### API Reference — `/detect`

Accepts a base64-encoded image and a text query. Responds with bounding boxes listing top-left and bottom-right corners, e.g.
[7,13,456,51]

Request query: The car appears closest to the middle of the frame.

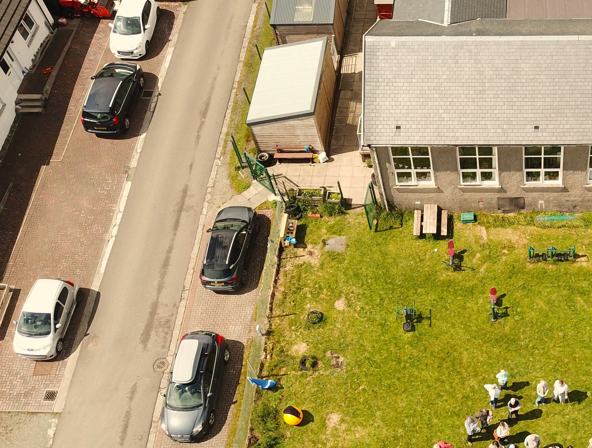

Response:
[195,204,262,294]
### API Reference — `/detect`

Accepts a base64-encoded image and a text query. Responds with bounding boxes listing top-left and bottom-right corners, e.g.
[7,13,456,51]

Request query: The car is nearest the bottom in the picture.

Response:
[156,330,232,441]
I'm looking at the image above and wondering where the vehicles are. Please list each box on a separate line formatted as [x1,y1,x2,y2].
[107,0,162,57]
[195,204,262,294]
[11,277,86,361]
[82,63,146,136]
[156,330,232,441]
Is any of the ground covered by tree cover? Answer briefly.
No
